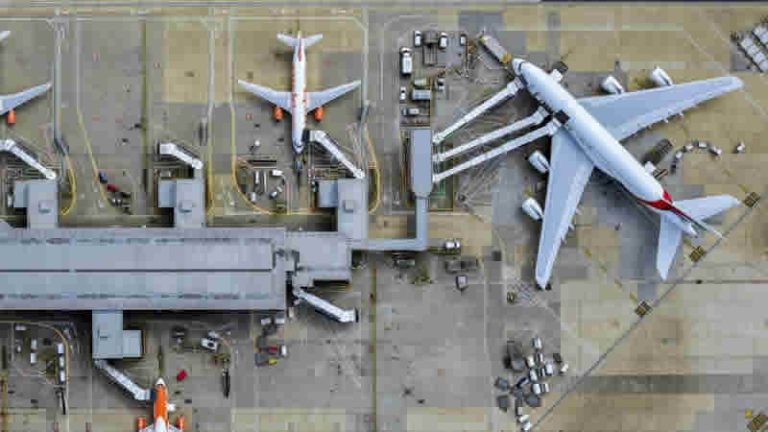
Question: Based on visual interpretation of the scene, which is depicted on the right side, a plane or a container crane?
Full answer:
There is a plane on the right side.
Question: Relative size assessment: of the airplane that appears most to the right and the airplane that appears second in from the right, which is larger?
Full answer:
It is the airplane that appears most to the right that is larger, not the airplane that appears second in from the right.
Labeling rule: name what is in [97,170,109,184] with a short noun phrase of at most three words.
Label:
vehicle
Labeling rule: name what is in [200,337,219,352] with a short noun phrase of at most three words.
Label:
vehicle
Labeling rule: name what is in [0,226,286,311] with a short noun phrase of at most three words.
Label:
building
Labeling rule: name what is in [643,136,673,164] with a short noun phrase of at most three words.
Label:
work vehicle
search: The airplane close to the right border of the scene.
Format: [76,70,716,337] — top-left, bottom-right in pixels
[511,62,745,297]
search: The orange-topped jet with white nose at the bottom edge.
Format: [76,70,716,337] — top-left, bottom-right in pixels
[137,377,187,432]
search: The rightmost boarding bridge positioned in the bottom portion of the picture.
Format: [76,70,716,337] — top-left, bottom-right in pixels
[290,282,356,320]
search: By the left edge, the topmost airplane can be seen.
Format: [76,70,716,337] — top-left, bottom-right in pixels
[0,77,53,125]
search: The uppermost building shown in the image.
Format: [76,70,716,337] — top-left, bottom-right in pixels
[405,125,434,198]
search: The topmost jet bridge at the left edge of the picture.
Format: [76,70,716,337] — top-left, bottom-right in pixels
[0,137,58,179]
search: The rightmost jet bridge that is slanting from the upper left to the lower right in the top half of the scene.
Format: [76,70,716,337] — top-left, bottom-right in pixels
[304,127,365,178]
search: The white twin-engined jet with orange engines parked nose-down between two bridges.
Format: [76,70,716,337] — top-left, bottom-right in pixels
[236,30,362,154]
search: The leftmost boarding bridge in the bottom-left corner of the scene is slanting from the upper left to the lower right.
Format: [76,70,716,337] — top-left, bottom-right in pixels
[93,359,157,402]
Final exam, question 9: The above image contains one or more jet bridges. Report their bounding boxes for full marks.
[434,111,567,184]
[157,142,206,178]
[93,359,157,402]
[434,77,524,145]
[290,282,356,320]
[434,107,549,164]
[304,127,365,178]
[0,137,58,179]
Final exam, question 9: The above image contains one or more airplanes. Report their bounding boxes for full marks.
[137,377,187,432]
[0,77,53,125]
[236,30,362,154]
[511,62,745,297]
